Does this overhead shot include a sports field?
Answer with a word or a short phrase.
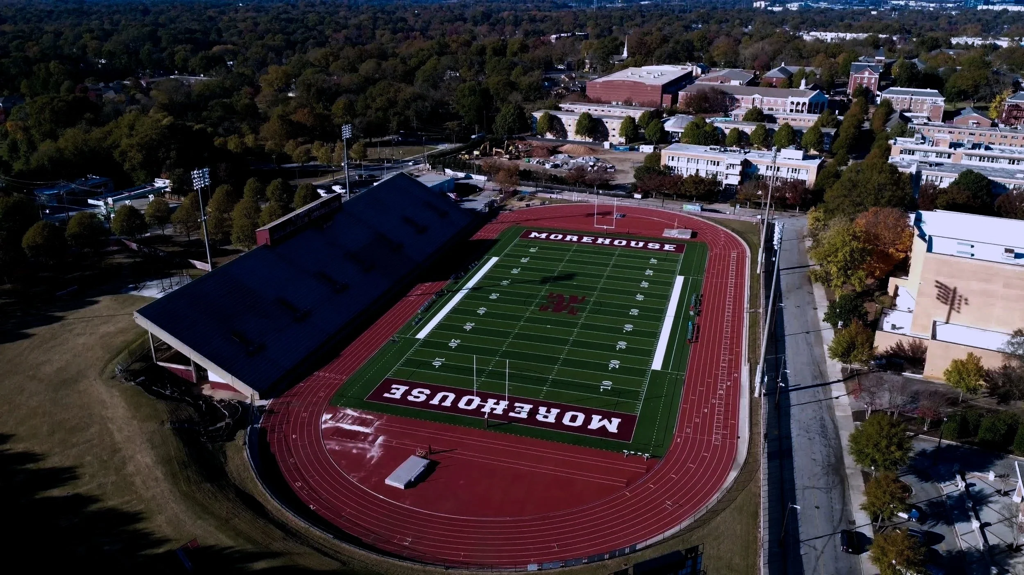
Yes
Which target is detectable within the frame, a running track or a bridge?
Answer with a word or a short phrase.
running track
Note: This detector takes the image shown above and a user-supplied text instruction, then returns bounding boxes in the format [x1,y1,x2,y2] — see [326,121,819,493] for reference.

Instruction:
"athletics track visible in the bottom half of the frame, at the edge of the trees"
[263,205,747,565]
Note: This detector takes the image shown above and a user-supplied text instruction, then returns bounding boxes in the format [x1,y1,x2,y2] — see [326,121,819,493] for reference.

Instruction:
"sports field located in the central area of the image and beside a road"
[332,226,707,457]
